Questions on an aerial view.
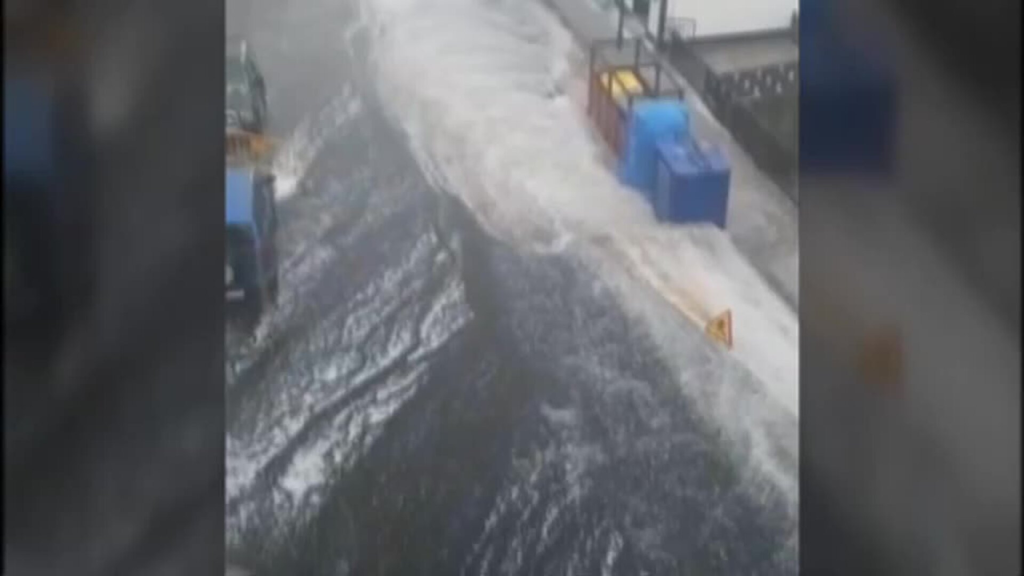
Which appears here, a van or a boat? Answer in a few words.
van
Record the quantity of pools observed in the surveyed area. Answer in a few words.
0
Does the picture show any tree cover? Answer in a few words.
No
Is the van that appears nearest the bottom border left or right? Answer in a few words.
left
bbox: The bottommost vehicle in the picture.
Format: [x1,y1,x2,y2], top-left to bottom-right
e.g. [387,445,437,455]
[178,169,272,314]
